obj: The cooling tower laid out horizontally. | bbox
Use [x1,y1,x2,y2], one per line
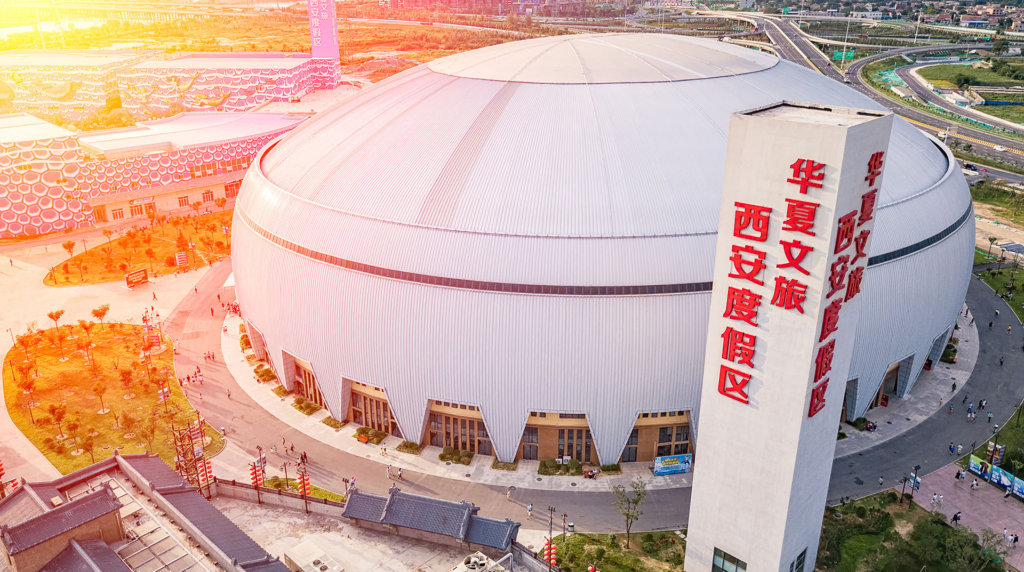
[451,548,509,572]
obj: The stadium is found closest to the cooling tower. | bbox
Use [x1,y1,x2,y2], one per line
[231,30,977,466]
